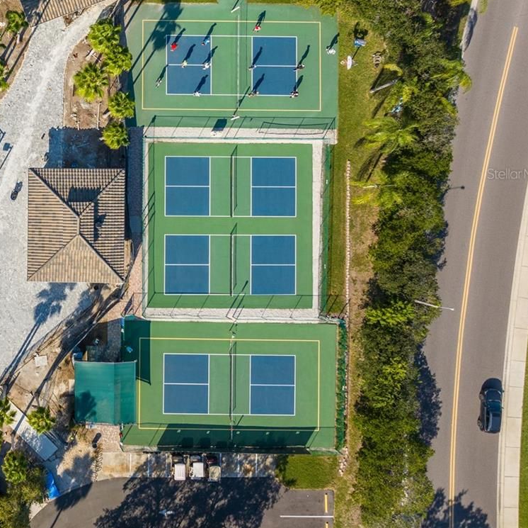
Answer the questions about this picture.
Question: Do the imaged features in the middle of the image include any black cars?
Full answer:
No, no black car is visible in the middle of the image.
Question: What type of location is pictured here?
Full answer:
The picture captures a sports ground.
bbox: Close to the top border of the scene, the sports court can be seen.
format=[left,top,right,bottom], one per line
[127,0,338,128]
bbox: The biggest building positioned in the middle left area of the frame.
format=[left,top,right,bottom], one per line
[27,168,126,283]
